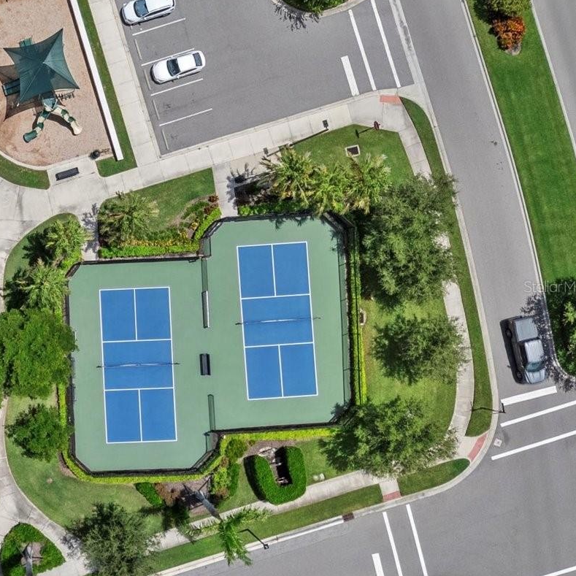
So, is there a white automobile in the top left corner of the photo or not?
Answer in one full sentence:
Yes, there is a white automobile in the top left corner of the photo.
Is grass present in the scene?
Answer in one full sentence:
Yes, some grass is visible.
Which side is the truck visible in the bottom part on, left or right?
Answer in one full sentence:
You can find the truck visible in the bottom part on the right side of the picture.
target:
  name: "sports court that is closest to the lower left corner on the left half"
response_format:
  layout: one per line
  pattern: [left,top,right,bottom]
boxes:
[70,259,219,472]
